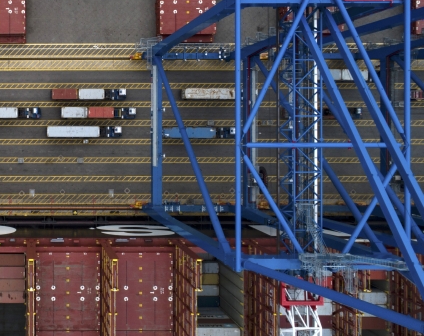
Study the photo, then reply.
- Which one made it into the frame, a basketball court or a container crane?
container crane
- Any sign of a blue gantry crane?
Yes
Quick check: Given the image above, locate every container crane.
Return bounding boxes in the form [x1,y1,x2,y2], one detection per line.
[128,0,424,336]
[262,8,424,252]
